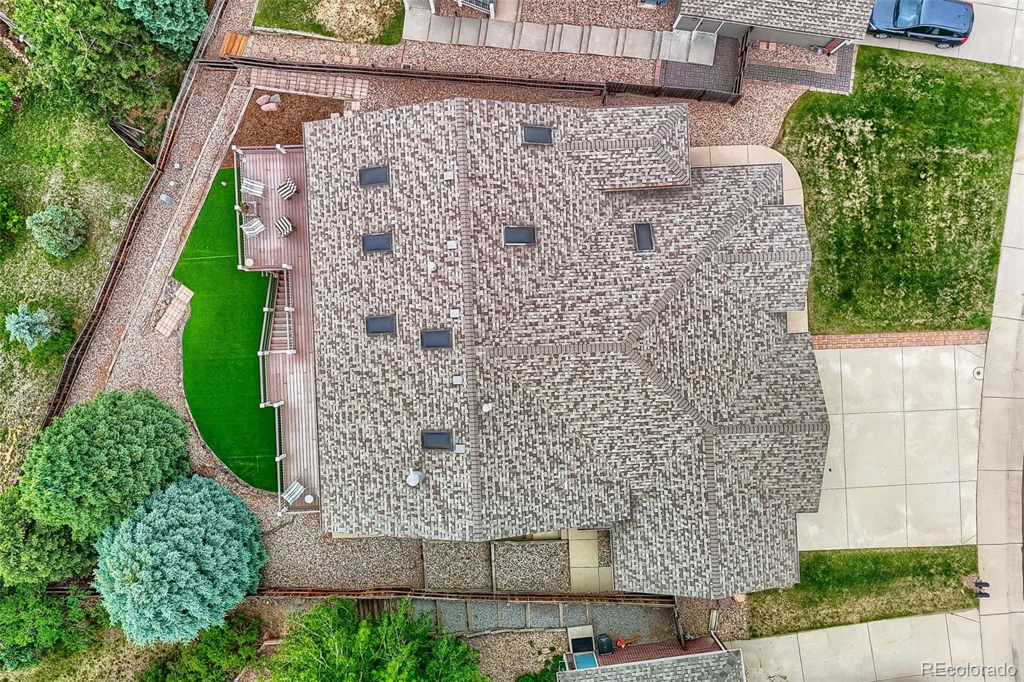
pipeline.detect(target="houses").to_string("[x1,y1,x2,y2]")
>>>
[553,633,747,682]
[670,0,876,52]
[299,96,830,599]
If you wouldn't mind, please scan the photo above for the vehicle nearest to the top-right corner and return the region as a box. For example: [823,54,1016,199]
[867,0,981,51]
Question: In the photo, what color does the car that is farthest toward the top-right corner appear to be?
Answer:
blue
